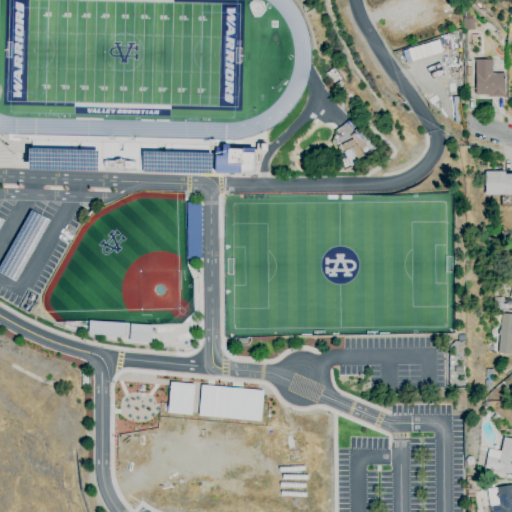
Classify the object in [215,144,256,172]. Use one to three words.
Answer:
building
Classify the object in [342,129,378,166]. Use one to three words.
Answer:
house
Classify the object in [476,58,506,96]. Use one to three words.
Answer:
house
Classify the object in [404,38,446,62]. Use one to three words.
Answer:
shed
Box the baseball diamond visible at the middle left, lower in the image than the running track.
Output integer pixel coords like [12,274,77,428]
[44,192,194,324]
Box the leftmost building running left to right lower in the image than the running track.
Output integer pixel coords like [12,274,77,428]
[89,321,130,338]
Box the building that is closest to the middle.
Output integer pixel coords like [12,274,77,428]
[188,202,204,259]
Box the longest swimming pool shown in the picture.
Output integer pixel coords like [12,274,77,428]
[483,420,496,446]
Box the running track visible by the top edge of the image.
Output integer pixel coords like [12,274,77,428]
[0,0,312,140]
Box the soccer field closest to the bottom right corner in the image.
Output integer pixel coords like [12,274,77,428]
[226,193,455,337]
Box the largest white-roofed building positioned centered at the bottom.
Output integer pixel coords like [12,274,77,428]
[200,385,264,422]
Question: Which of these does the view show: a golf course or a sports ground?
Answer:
sports ground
